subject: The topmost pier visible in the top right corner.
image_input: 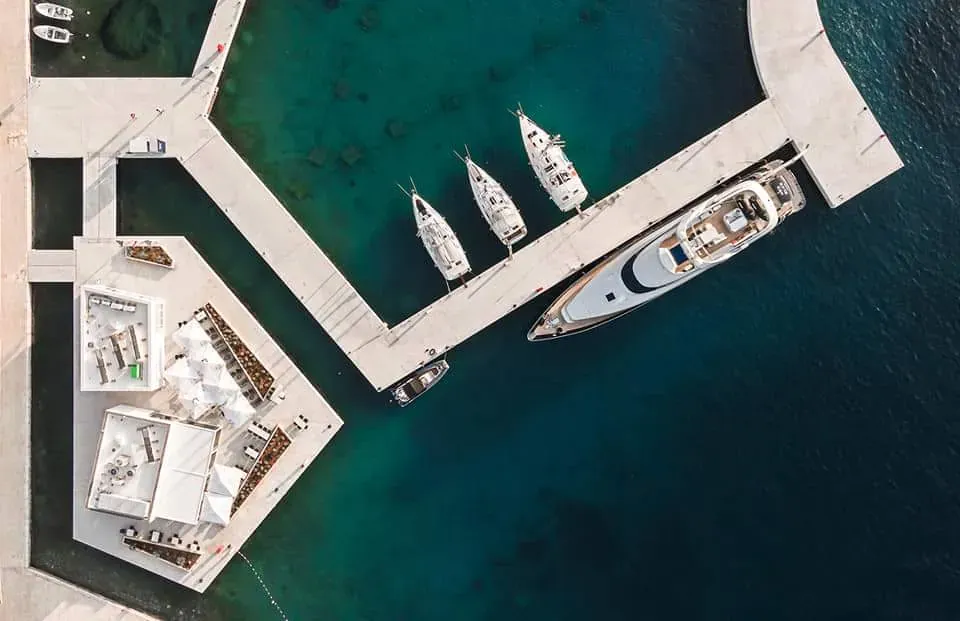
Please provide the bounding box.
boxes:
[744,0,903,209]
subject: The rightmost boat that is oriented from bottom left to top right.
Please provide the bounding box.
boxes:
[527,140,807,339]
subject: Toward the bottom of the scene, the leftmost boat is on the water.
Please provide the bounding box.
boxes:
[392,355,449,406]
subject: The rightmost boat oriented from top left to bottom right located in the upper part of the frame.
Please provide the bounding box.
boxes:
[509,100,591,215]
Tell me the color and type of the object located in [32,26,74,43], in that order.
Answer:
white boat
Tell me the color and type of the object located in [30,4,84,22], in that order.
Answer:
white boat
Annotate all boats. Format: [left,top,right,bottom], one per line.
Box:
[30,4,84,22]
[404,180,477,293]
[32,26,74,43]
[509,100,591,215]
[392,355,449,406]
[527,140,807,339]
[456,145,532,249]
